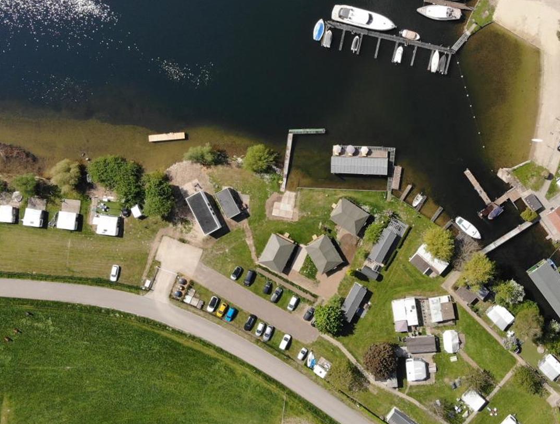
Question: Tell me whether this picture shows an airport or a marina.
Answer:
marina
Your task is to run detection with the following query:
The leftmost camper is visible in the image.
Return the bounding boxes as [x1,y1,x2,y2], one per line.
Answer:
[0,206,21,225]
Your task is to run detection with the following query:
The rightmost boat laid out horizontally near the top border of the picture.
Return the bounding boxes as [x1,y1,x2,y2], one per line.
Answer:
[413,4,464,23]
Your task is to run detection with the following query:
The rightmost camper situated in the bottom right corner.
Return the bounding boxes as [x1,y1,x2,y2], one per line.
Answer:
[536,351,560,381]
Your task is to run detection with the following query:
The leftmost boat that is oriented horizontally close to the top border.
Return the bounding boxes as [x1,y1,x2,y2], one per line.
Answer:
[327,3,400,33]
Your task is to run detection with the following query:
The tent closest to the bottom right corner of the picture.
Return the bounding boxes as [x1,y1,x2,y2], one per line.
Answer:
[462,384,485,410]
